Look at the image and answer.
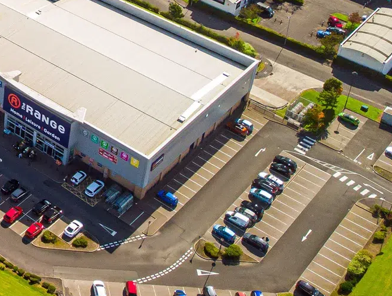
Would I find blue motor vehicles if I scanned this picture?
Yes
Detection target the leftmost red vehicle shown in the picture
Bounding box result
[2,204,25,225]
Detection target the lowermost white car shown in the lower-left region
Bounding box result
[92,279,107,296]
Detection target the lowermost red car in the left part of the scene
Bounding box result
[123,280,138,296]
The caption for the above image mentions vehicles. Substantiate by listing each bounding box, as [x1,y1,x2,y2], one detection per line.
[269,161,293,177]
[235,205,262,225]
[173,291,187,296]
[203,286,218,296]
[227,123,248,136]
[273,156,300,172]
[316,28,326,38]
[256,172,284,189]
[63,219,85,239]
[212,227,238,244]
[239,198,266,217]
[247,189,275,207]
[25,223,44,240]
[327,16,343,26]
[42,204,65,225]
[337,113,360,127]
[327,21,344,30]
[225,207,253,230]
[0,177,22,196]
[241,234,271,256]
[123,280,138,296]
[2,204,25,225]
[252,178,279,197]
[294,281,322,296]
[156,190,181,208]
[68,170,89,187]
[84,179,105,198]
[9,188,29,203]
[92,279,107,296]
[234,115,258,131]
